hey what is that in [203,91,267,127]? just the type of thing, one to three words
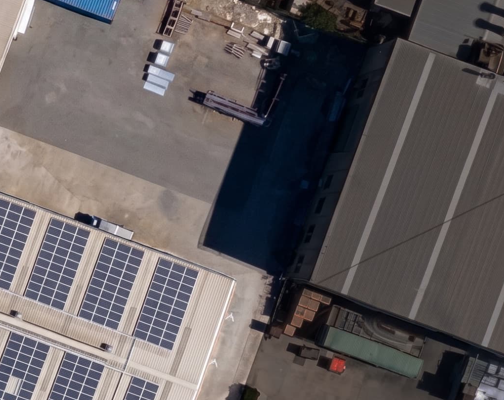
trailer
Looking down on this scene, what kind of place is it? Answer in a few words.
industrial area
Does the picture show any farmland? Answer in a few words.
No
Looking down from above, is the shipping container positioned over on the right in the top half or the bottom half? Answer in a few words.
bottom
